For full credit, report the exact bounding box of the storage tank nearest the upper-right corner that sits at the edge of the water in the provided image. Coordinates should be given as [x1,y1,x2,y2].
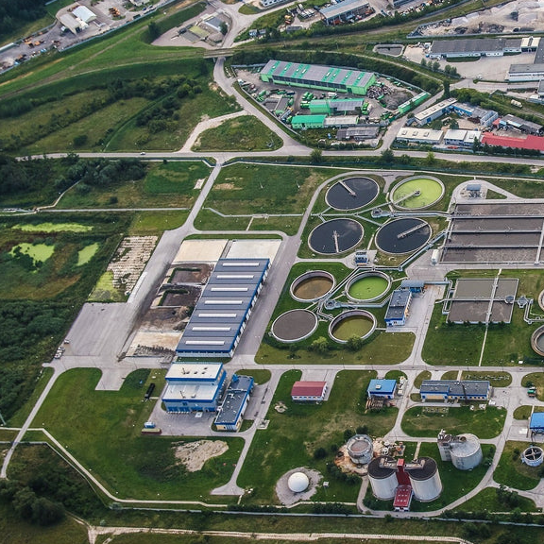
[390,176,446,211]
